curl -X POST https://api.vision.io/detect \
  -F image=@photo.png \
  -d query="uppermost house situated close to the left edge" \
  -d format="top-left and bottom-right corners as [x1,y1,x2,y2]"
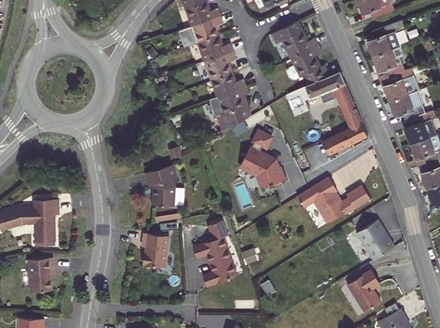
[0,199,60,246]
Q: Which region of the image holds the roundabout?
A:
top left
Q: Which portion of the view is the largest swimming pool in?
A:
center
